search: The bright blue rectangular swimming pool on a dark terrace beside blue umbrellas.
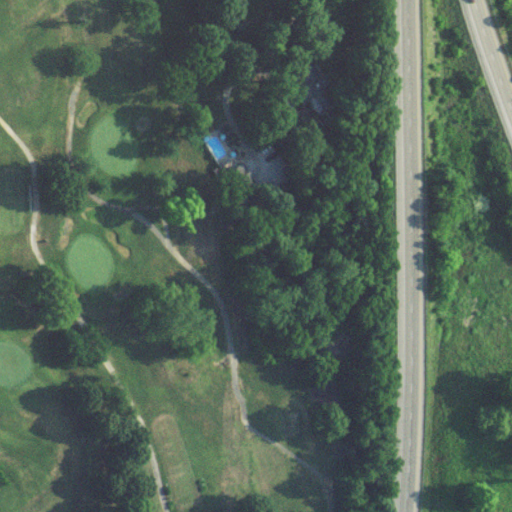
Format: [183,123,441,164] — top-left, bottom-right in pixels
[208,136,226,162]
